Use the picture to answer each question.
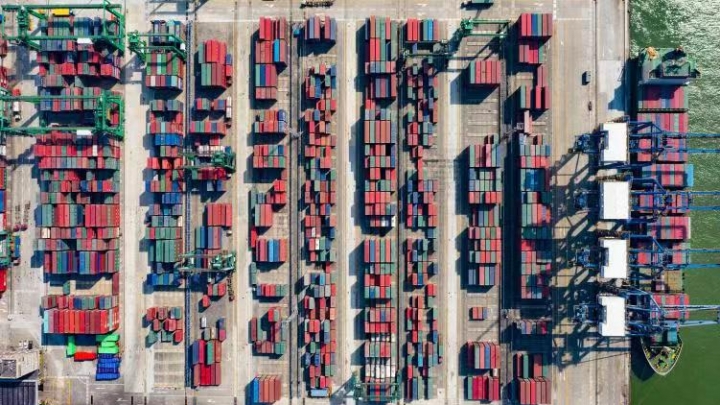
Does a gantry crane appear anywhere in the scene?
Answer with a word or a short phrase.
Yes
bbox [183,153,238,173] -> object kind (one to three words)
container crane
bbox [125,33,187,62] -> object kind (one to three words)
container crane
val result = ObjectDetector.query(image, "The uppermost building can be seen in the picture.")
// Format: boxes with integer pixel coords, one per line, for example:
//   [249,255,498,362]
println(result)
[0,347,39,380]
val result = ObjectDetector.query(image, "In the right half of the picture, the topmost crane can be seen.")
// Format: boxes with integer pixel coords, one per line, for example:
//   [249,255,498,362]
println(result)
[456,19,509,51]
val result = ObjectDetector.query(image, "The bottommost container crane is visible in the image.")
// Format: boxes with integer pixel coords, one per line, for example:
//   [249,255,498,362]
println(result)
[351,368,400,400]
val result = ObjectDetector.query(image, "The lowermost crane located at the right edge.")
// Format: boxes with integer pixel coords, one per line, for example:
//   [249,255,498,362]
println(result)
[569,278,720,338]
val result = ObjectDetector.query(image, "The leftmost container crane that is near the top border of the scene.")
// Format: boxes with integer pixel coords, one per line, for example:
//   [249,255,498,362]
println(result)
[0,3,133,57]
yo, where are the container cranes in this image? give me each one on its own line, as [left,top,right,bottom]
[569,226,720,283]
[569,118,720,174]
[456,19,509,51]
[125,33,187,62]
[183,248,238,271]
[183,153,238,173]
[400,39,451,69]
[351,368,400,400]
[0,3,133,57]
[0,95,133,141]
[569,278,720,338]
[569,174,720,226]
